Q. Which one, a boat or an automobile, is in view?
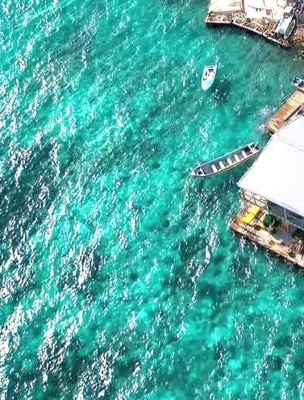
boat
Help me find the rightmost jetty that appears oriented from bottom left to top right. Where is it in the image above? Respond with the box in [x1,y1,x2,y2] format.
[268,91,304,136]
